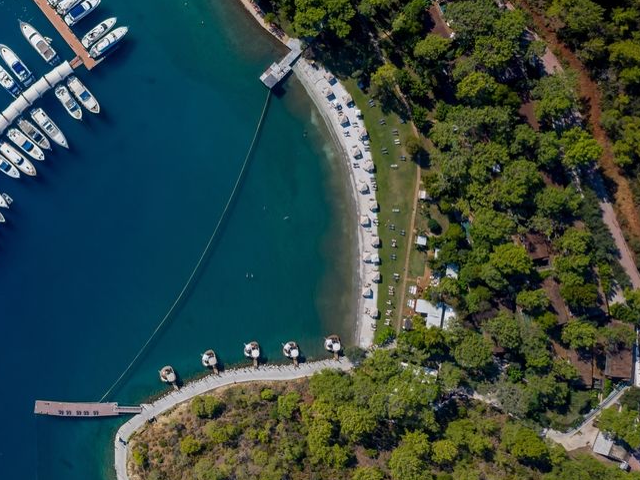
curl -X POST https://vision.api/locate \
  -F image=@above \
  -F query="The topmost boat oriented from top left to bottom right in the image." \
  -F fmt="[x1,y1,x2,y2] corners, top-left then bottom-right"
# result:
[17,18,57,62]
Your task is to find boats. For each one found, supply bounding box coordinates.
[0,45,33,84]
[56,87,81,119]
[17,18,57,62]
[66,75,100,113]
[2,192,12,204]
[19,119,52,149]
[64,0,101,28]
[0,65,20,94]
[48,0,64,8]
[7,128,44,160]
[58,0,83,17]
[81,19,117,50]
[0,155,21,178]
[0,142,36,176]
[89,26,129,60]
[31,108,68,148]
